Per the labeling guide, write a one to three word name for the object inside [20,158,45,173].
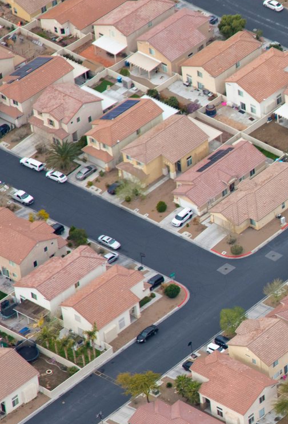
vehicle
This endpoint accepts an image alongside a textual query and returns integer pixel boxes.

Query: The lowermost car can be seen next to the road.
[178,360,195,373]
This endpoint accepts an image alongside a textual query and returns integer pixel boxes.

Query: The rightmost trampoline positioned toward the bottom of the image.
[16,336,38,357]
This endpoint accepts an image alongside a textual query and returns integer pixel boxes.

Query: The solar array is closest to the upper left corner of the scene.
[10,58,45,79]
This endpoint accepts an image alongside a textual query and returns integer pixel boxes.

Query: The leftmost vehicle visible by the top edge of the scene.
[204,15,223,27]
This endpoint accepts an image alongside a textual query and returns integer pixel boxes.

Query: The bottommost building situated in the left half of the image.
[0,353,38,418]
